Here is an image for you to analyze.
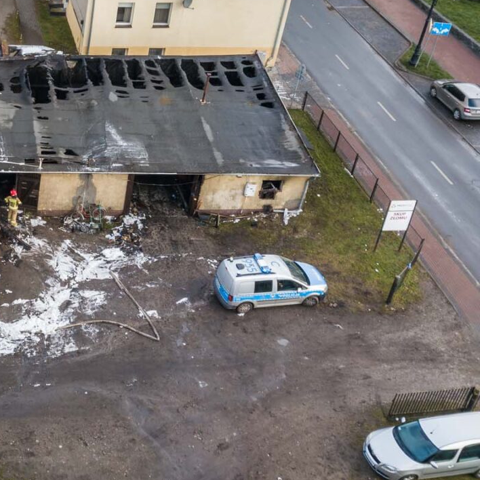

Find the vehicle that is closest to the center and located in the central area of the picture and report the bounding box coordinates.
[212,250,331,310]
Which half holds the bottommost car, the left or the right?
right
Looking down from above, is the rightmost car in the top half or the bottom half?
top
